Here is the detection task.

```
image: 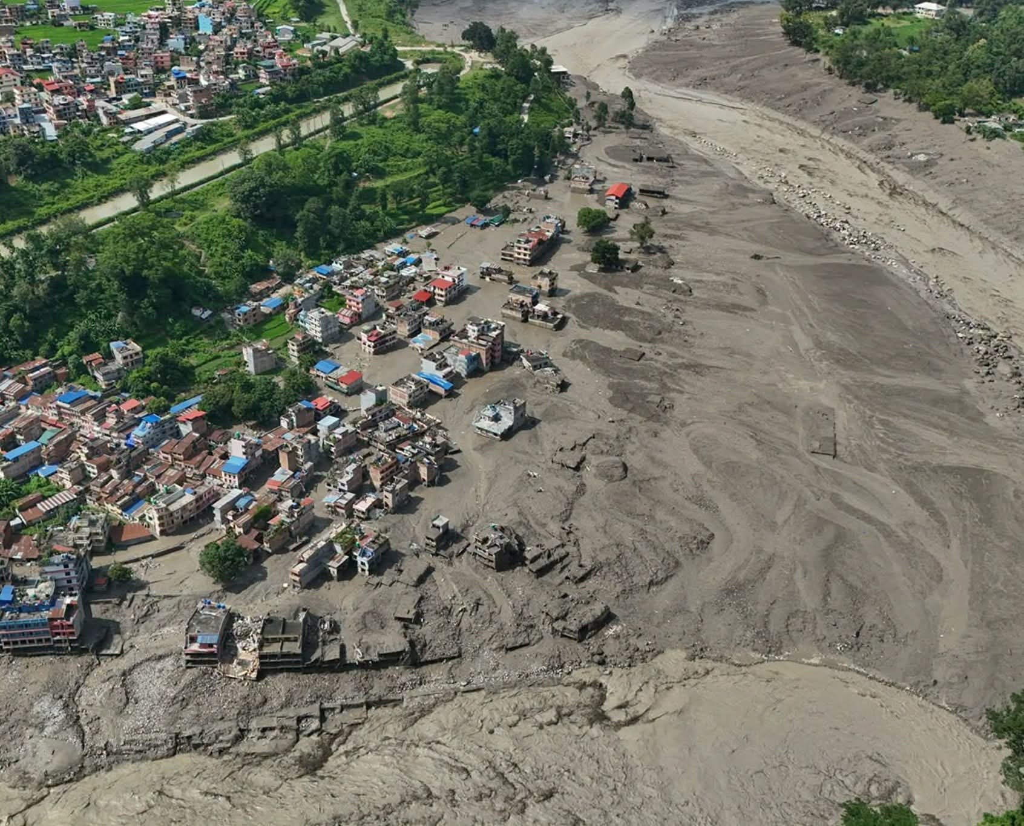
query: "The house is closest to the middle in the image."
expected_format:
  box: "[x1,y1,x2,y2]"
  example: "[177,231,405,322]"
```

[471,399,525,439]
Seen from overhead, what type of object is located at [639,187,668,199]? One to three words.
house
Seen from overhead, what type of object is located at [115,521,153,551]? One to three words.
shed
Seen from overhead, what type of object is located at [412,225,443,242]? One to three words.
shed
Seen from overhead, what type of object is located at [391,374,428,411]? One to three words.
house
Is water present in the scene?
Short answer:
Yes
